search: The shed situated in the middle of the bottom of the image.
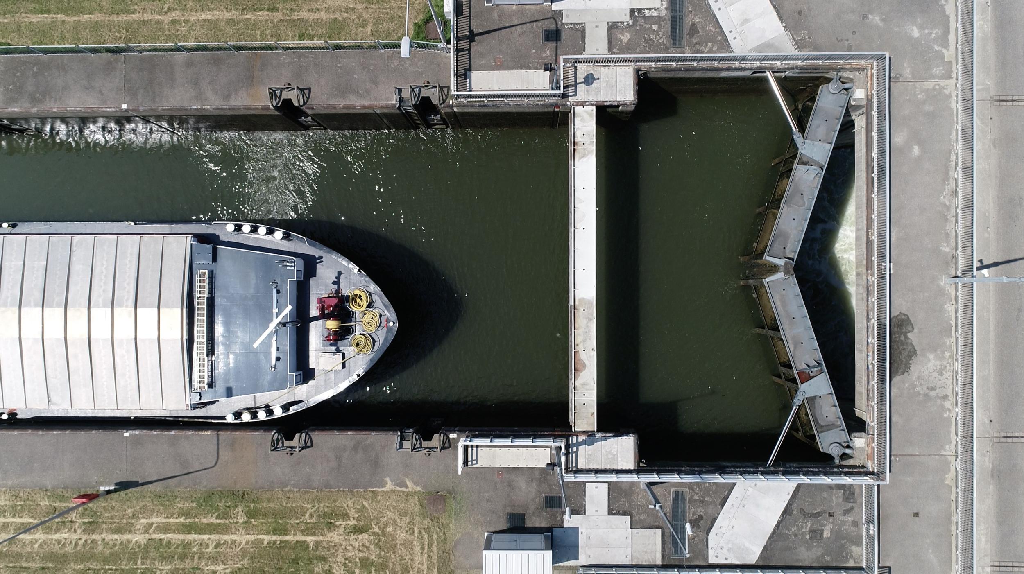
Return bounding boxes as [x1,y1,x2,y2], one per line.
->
[480,533,554,574]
